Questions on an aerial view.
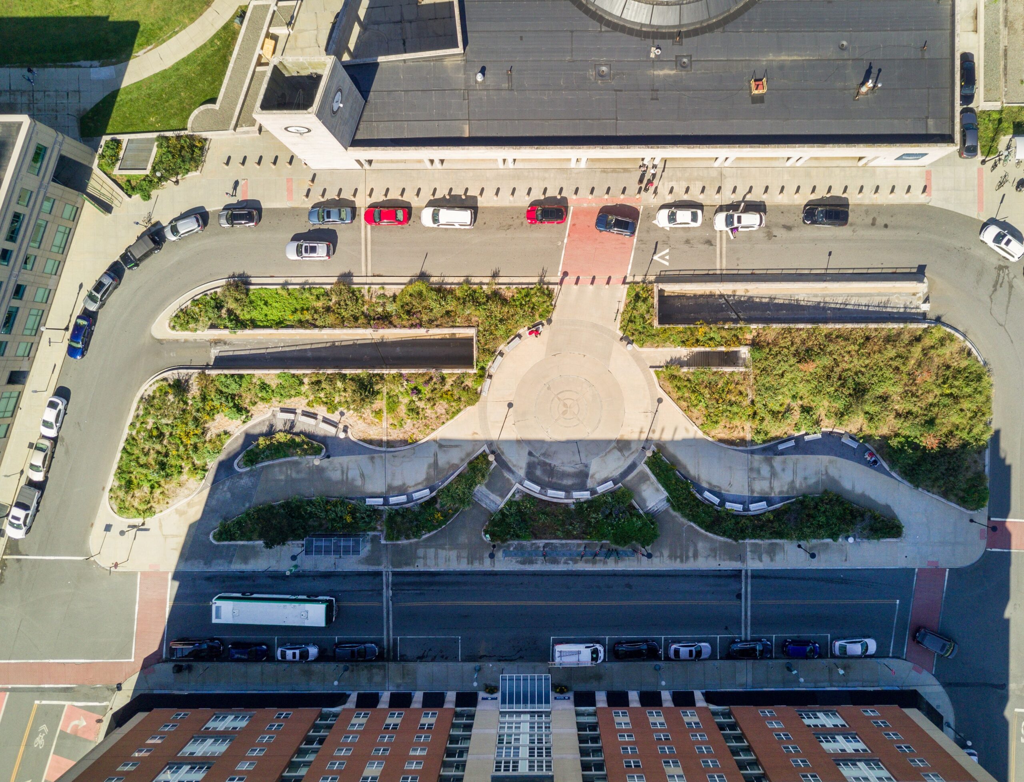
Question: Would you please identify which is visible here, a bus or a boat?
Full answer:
There is a bus in the scene.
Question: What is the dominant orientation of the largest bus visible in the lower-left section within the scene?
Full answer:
I'd say the largest bus visible in the lower-left section is aligned from side to side in the picture.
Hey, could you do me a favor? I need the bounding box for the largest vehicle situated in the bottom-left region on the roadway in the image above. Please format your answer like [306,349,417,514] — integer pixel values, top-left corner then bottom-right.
[210,594,335,629]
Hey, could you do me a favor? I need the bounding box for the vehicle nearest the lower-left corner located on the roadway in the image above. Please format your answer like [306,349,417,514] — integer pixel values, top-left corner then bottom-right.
[167,638,224,662]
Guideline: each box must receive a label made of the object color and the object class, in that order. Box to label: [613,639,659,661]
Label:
black car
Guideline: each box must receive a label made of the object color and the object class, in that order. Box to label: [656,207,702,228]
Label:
white car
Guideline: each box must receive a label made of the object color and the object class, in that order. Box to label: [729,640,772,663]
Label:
black car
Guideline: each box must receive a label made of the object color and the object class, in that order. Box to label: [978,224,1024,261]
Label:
white car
